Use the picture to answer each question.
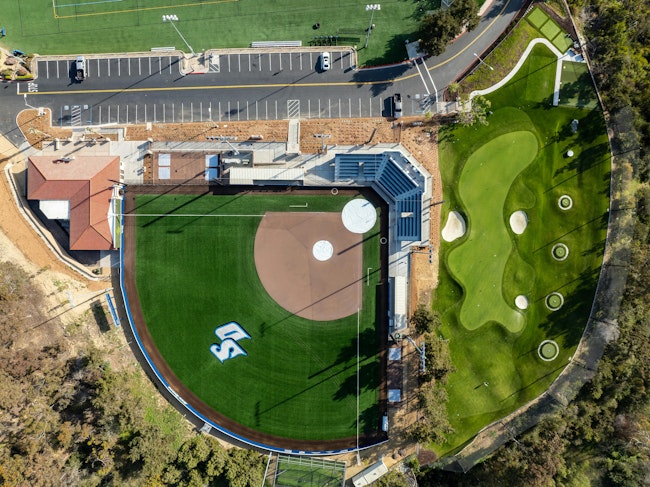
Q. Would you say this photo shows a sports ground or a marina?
sports ground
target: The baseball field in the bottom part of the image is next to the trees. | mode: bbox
[124,186,388,449]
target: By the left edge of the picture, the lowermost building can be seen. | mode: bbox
[27,156,125,250]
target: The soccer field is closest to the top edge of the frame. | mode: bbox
[0,0,479,68]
